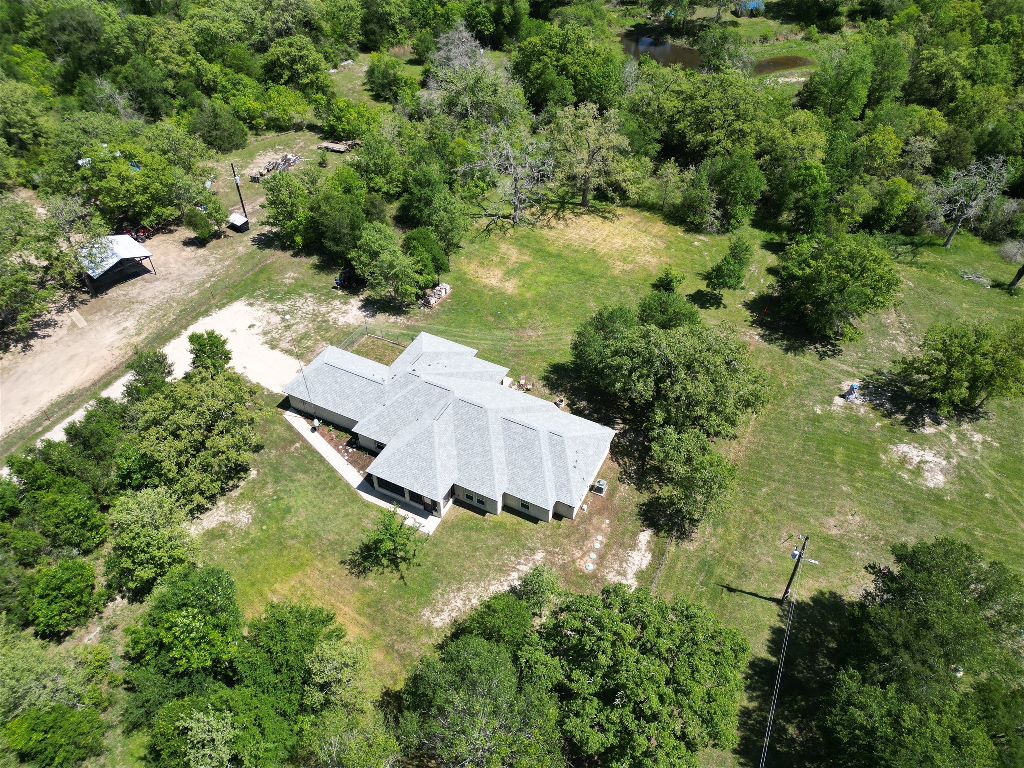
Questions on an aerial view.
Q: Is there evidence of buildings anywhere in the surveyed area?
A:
Yes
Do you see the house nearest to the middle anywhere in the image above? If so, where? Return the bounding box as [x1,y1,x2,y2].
[282,332,618,525]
